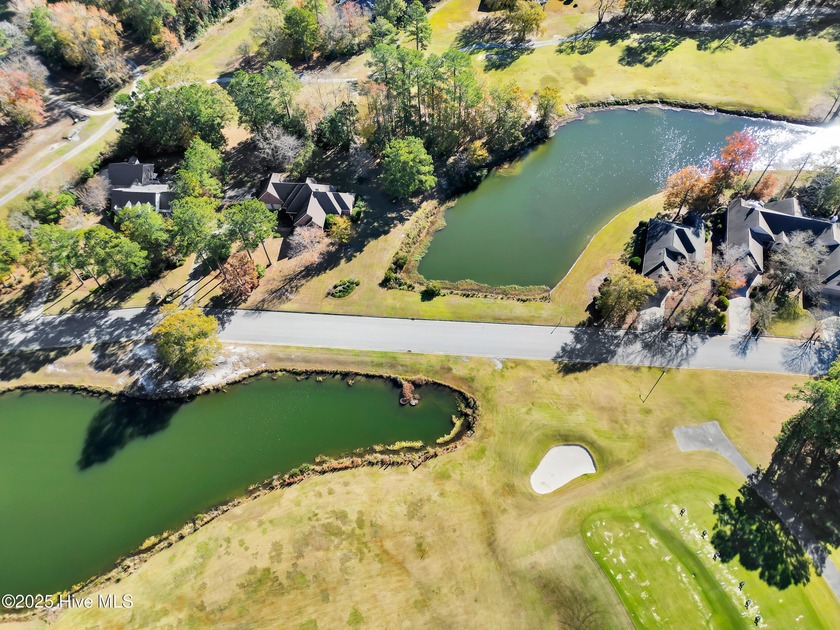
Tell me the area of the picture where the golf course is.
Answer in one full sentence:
The golf course appears toward the bottom of the photo.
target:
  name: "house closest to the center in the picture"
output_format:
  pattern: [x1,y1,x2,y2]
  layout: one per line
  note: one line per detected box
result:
[258,171,358,240]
